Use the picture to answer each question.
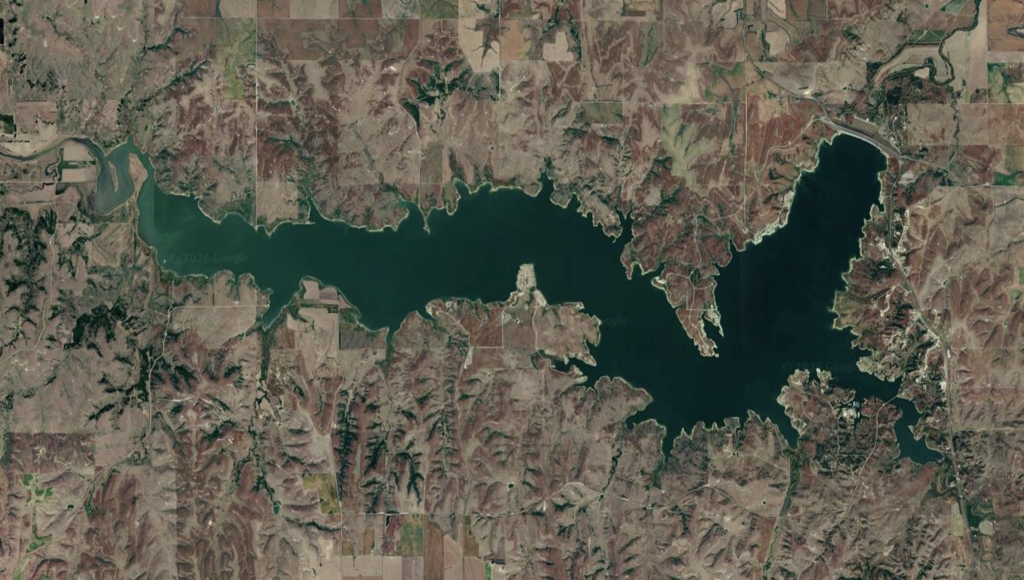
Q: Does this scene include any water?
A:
Yes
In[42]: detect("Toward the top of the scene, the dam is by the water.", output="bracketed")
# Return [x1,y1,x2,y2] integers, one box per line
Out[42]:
[827,113,902,157]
